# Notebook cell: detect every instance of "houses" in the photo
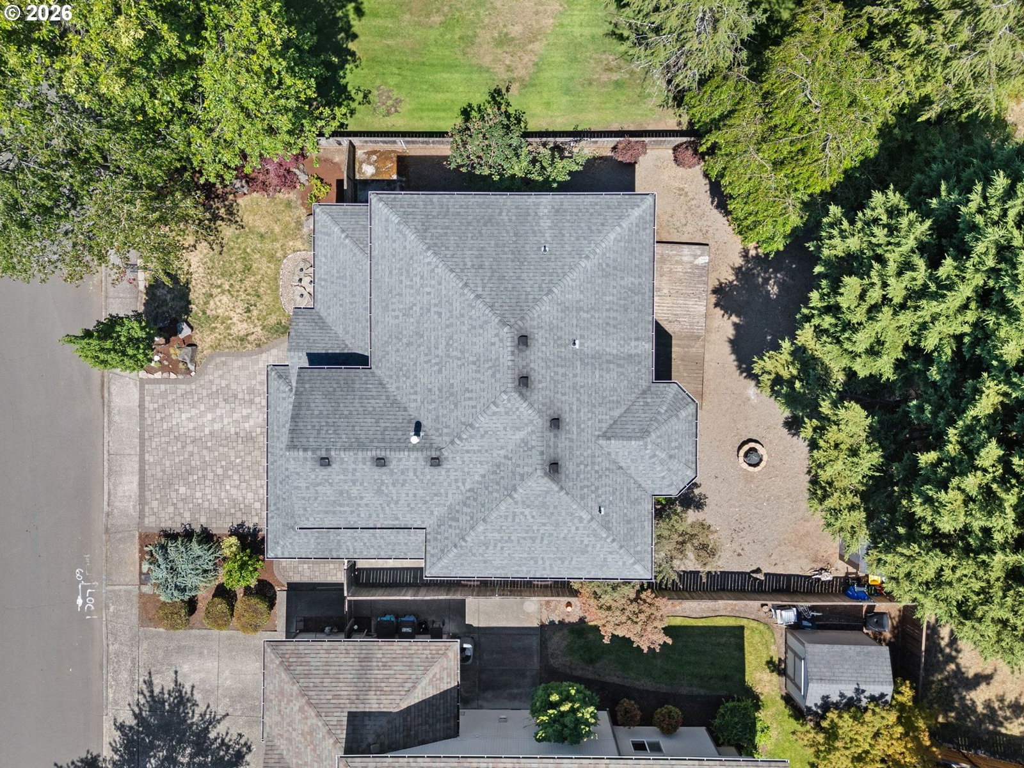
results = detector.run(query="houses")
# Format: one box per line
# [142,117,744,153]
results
[263,626,786,768]
[267,192,697,580]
